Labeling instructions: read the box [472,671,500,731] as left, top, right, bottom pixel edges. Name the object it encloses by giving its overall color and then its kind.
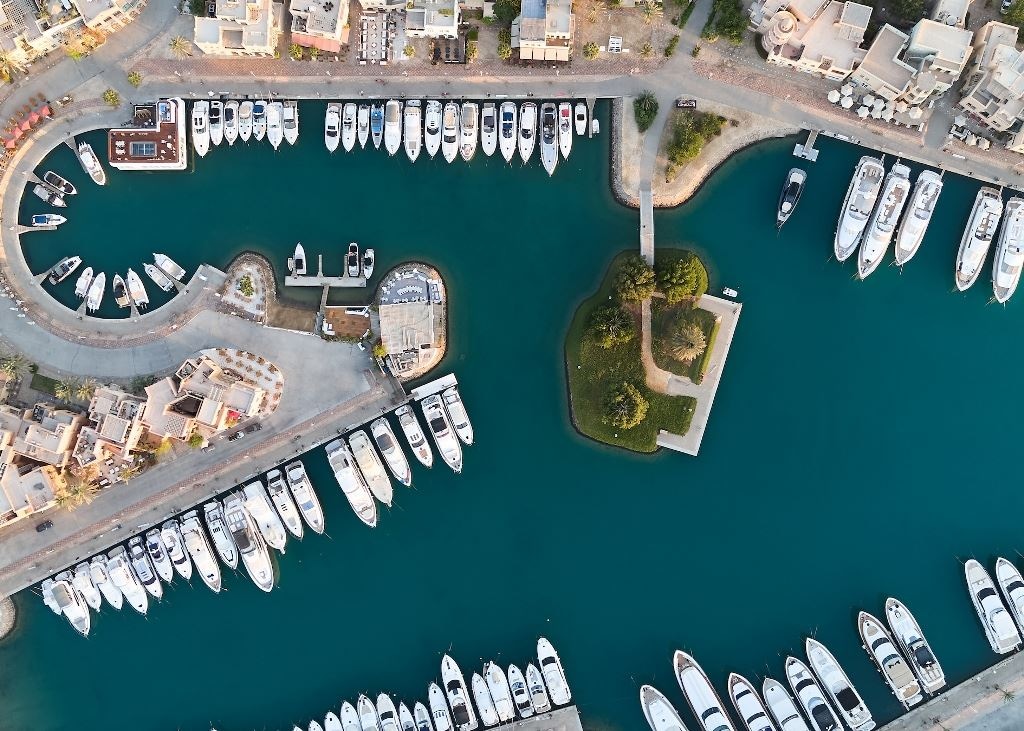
white boat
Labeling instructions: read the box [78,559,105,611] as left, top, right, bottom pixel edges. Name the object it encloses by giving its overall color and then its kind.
white boat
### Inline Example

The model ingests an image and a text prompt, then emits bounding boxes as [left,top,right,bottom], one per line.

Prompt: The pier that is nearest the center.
[404,374,458,403]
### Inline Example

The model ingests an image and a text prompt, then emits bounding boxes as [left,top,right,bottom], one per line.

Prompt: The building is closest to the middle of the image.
[380,301,436,372]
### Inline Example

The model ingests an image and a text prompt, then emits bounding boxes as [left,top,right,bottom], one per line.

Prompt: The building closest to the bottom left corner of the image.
[0,461,68,528]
